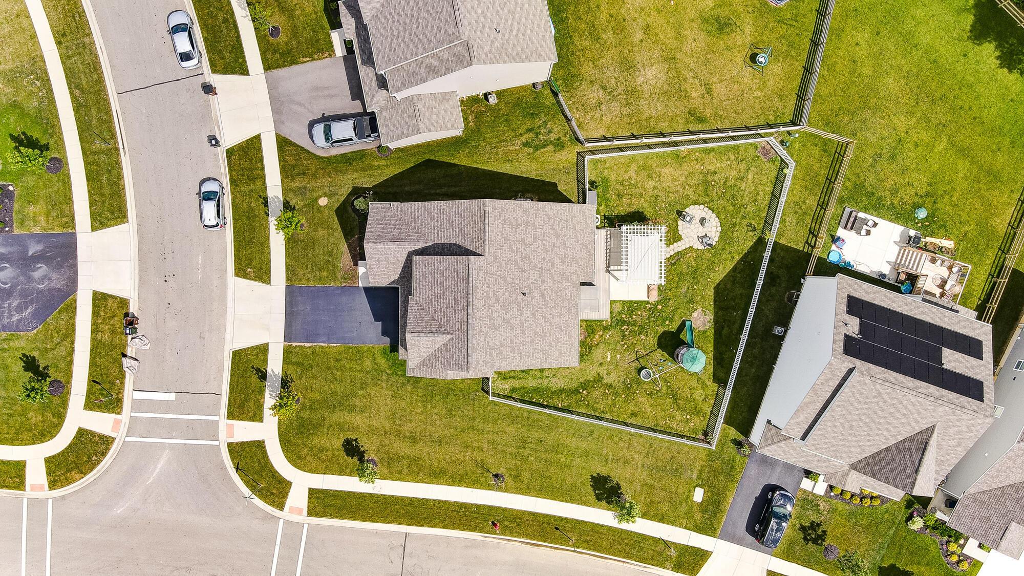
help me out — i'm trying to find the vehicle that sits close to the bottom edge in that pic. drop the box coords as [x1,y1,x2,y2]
[755,485,796,549]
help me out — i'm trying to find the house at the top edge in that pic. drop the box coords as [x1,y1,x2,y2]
[338,0,558,149]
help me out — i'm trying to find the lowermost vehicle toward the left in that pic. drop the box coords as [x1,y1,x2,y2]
[197,179,228,230]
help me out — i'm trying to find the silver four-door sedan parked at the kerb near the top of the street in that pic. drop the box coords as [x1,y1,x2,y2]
[167,10,202,69]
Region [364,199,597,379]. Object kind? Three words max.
house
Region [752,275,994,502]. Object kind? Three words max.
house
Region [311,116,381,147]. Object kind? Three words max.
truck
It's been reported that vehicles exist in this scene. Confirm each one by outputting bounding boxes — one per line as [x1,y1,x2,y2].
[167,10,202,69]
[755,485,796,549]
[311,116,381,147]
[197,179,228,230]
